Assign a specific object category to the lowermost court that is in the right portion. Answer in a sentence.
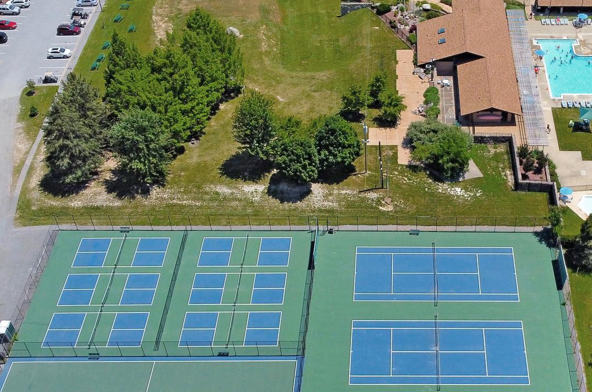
It turns out the lowermost court that is in the right portion is a tennis court.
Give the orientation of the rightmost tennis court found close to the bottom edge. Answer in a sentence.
In this picture, the rightmost tennis court found close to the bottom edge is oriented horizontally.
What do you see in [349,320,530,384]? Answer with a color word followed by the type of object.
blue tennis court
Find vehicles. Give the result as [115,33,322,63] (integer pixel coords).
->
[70,15,84,26]
[39,70,56,82]
[0,2,21,14]
[0,32,8,44]
[45,46,72,59]
[55,23,81,35]
[5,0,29,7]
[71,8,85,19]
[0,19,16,29]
